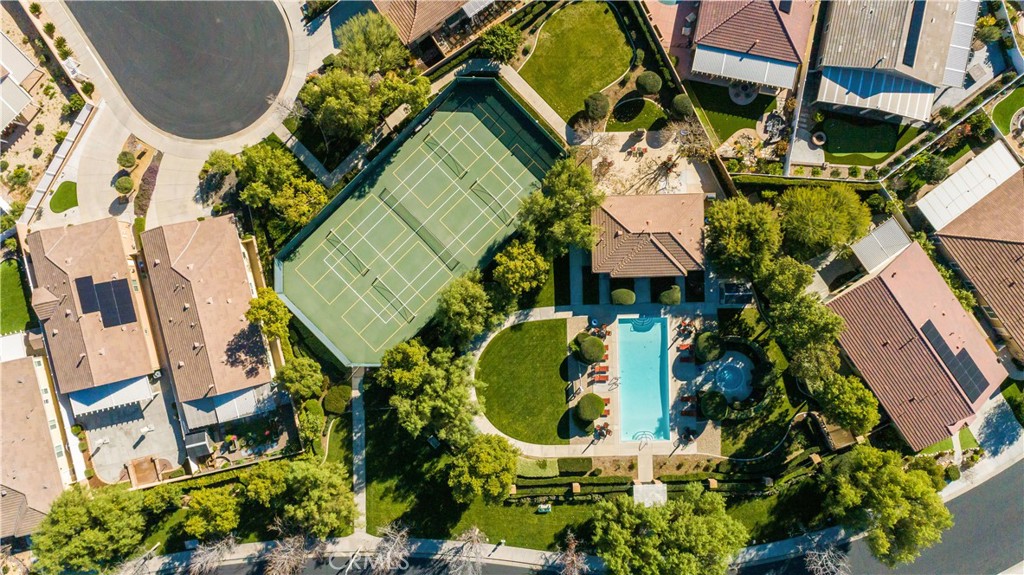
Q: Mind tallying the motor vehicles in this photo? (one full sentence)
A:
The photo contains no motor vehicles.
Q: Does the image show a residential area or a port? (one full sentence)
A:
This looks like a residential area.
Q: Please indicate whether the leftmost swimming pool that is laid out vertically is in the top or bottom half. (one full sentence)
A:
Seen from above, the leftmost swimming pool that is laid out vertically lies in the bottom half of the view.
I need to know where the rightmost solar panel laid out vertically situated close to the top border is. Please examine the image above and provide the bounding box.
[903,0,925,64]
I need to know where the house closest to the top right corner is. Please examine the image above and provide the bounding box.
[810,0,980,126]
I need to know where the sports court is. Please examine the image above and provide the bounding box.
[283,85,565,363]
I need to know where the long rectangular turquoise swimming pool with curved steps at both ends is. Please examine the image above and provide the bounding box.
[616,314,670,448]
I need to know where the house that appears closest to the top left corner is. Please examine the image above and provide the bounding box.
[0,30,50,136]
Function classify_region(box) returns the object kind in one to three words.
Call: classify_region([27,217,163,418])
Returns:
house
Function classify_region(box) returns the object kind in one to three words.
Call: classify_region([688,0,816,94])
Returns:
house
